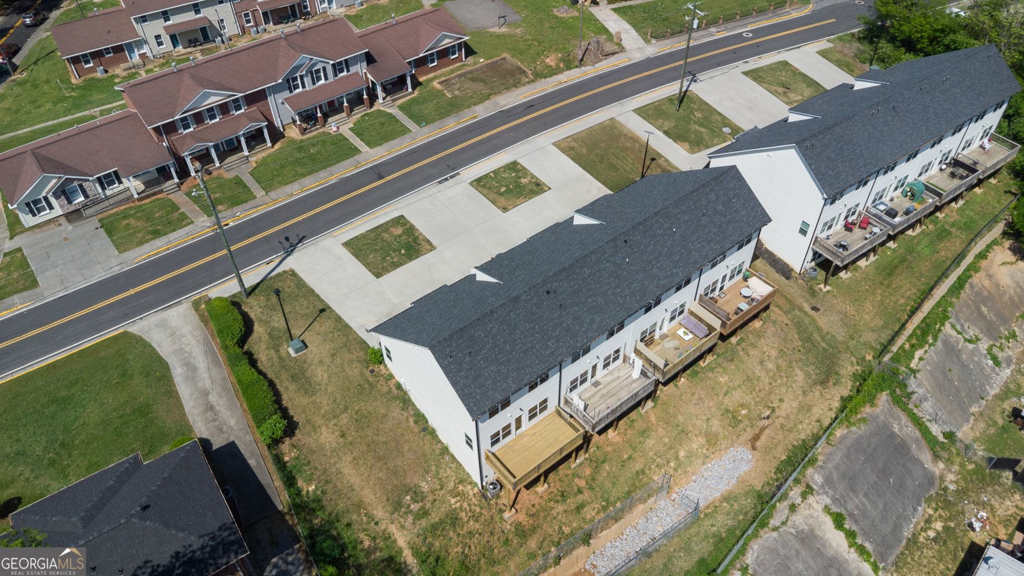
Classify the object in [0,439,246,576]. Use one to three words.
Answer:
house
